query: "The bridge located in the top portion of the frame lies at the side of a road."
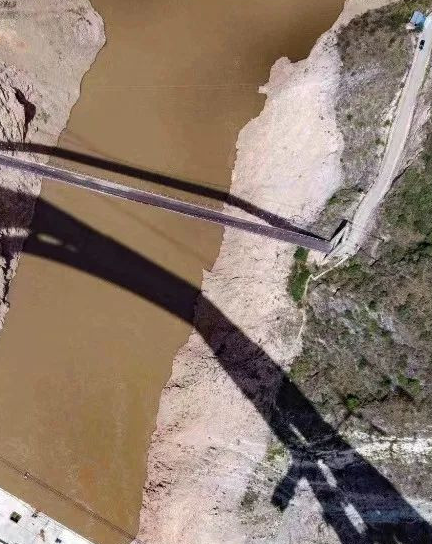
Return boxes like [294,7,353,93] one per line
[0,148,345,261]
